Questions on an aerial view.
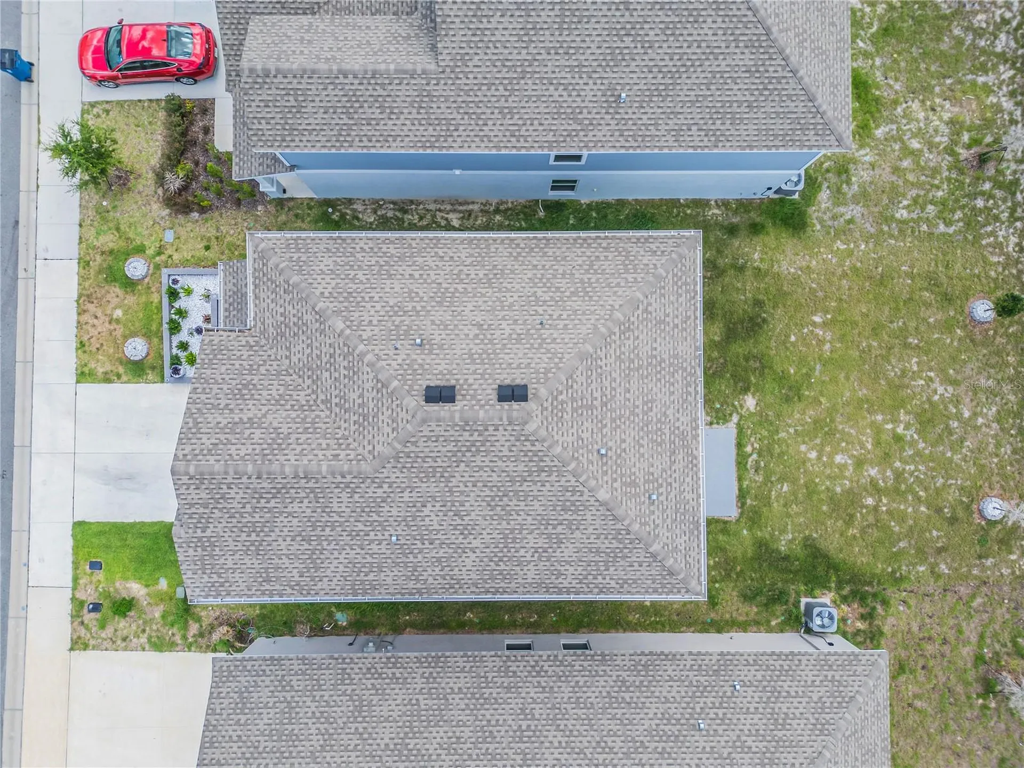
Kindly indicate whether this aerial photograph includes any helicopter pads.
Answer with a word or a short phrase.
No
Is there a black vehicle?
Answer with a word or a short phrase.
No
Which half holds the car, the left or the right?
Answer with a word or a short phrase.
left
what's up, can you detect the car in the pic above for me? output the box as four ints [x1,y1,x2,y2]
[77,17,218,87]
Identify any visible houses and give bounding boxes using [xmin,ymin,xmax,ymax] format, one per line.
[213,0,854,211]
[172,231,708,604]
[194,630,891,768]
